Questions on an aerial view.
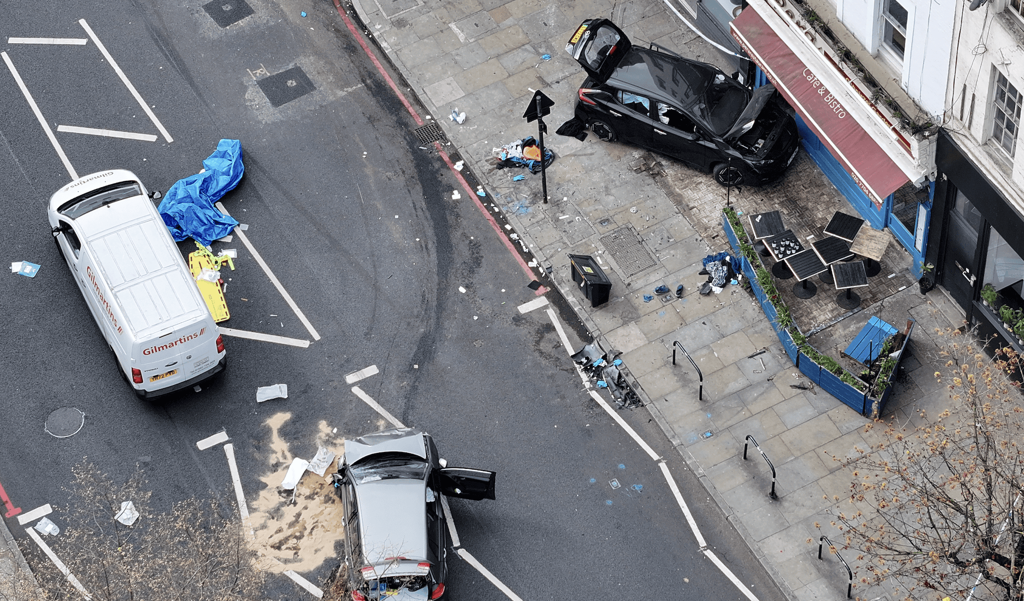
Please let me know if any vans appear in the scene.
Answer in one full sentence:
Yes, a van appears in the view.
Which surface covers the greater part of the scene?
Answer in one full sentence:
The bulk of the photo consists of paved ground.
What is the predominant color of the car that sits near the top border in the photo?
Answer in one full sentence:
In this view, the car that sits near the top border is black.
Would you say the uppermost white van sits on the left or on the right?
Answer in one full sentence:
The uppermost white van is on the left side of the image.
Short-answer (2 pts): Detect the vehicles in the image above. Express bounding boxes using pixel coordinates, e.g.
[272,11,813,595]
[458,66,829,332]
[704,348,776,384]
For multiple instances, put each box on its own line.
[47,174,226,400]
[556,23,802,184]
[331,431,499,601]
